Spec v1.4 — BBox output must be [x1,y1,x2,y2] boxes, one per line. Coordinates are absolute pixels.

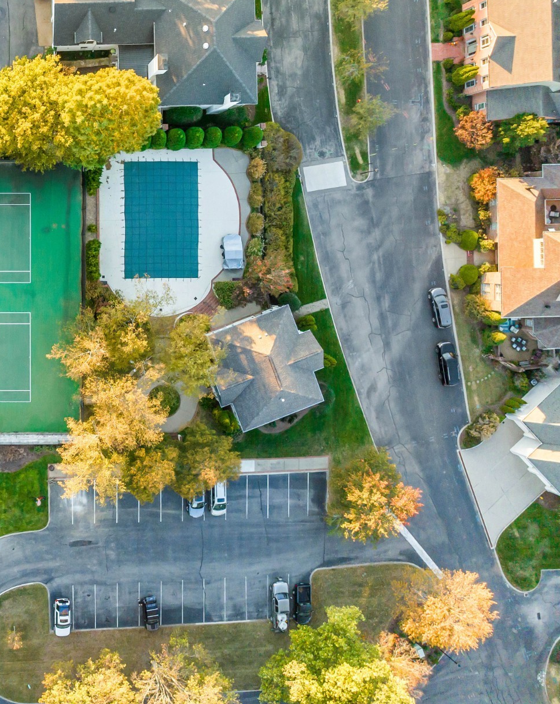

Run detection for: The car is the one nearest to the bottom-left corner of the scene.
[53,596,72,637]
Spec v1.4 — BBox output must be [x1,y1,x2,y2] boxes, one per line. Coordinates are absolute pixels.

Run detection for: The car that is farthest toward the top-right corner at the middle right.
[429,288,456,329]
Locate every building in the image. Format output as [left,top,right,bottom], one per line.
[456,0,560,122]
[464,163,560,350]
[499,377,560,499]
[204,302,325,433]
[52,0,268,116]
